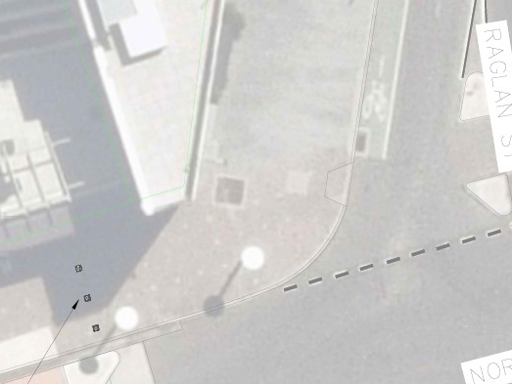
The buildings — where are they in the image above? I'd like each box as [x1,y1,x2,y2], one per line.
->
[0,0,85,248]
[101,0,245,218]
